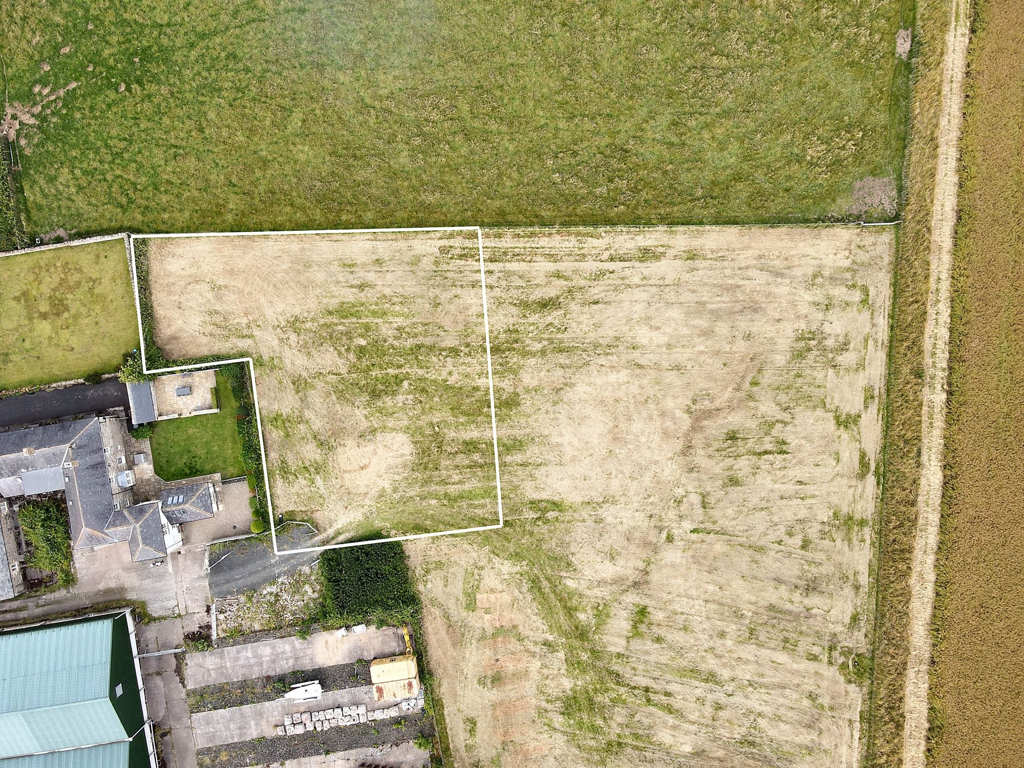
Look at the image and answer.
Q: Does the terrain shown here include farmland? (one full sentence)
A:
Yes, the picture does contain farmland.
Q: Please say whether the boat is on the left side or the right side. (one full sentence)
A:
The boat is on the left side of the image.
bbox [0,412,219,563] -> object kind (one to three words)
house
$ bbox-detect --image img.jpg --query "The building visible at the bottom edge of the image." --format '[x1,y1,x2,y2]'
[0,607,153,768]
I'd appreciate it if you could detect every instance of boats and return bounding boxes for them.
[275,680,325,703]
